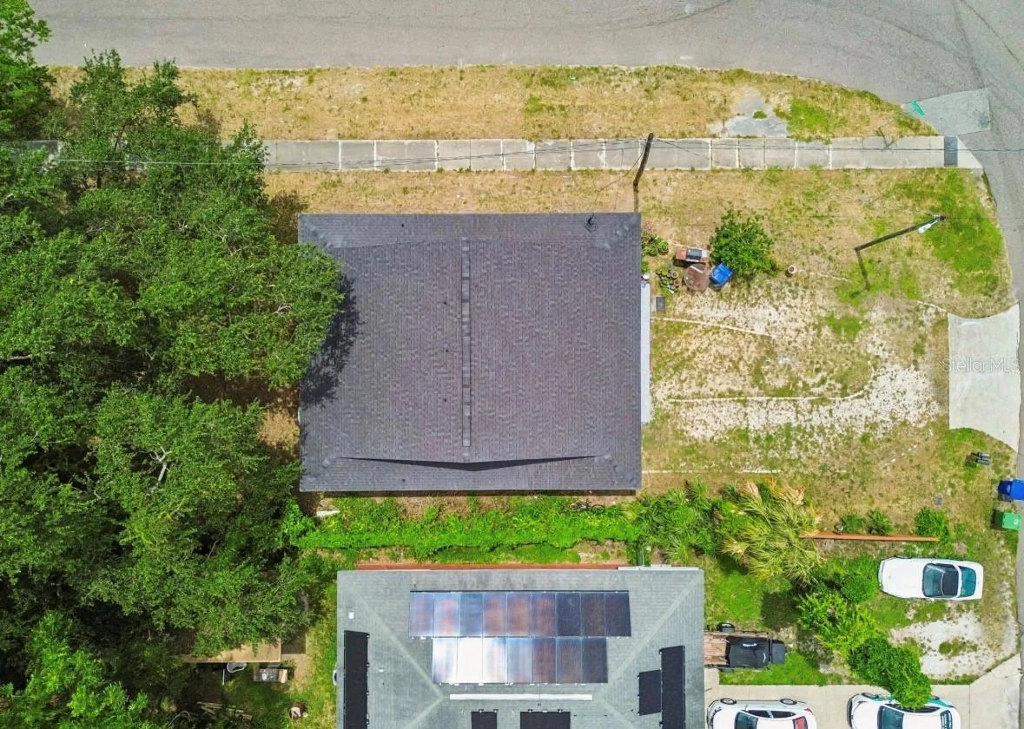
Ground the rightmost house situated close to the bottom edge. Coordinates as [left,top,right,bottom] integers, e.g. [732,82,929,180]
[336,560,705,729]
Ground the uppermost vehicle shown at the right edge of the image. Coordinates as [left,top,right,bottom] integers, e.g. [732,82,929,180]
[878,552,982,603]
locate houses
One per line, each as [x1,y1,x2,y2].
[336,560,705,729]
[297,212,643,492]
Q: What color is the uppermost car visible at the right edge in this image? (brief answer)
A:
white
